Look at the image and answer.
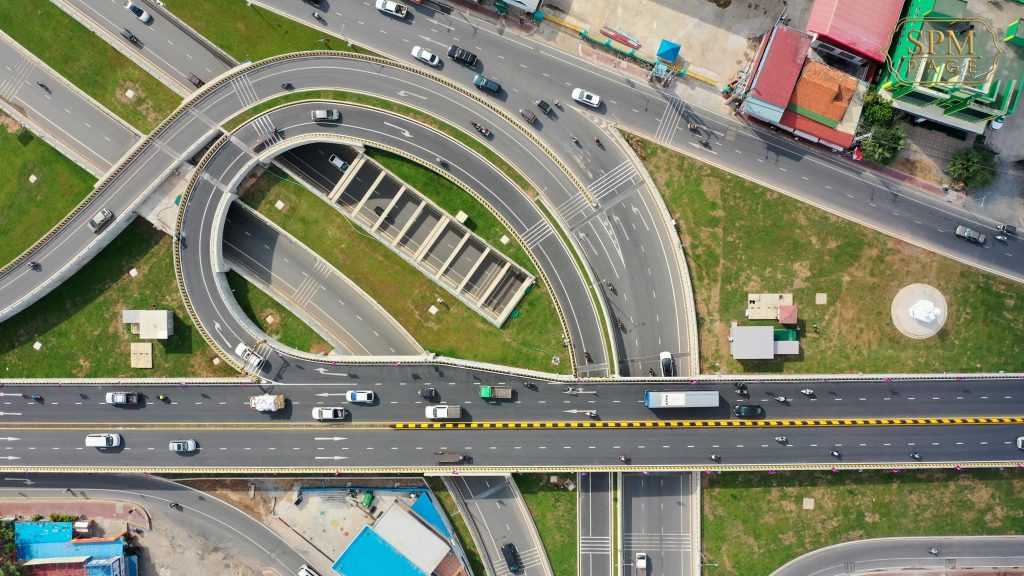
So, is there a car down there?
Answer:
Yes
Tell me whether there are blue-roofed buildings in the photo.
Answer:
Yes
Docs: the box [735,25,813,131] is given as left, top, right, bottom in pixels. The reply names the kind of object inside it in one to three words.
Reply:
building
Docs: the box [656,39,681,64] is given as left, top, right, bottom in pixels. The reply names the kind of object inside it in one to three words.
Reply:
tent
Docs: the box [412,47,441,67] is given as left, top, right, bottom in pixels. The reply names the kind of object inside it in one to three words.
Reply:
car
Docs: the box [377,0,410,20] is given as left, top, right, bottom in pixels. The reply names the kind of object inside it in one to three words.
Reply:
vehicle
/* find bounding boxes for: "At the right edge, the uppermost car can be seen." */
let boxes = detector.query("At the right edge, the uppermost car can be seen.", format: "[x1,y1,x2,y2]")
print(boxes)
[987,118,1005,138]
